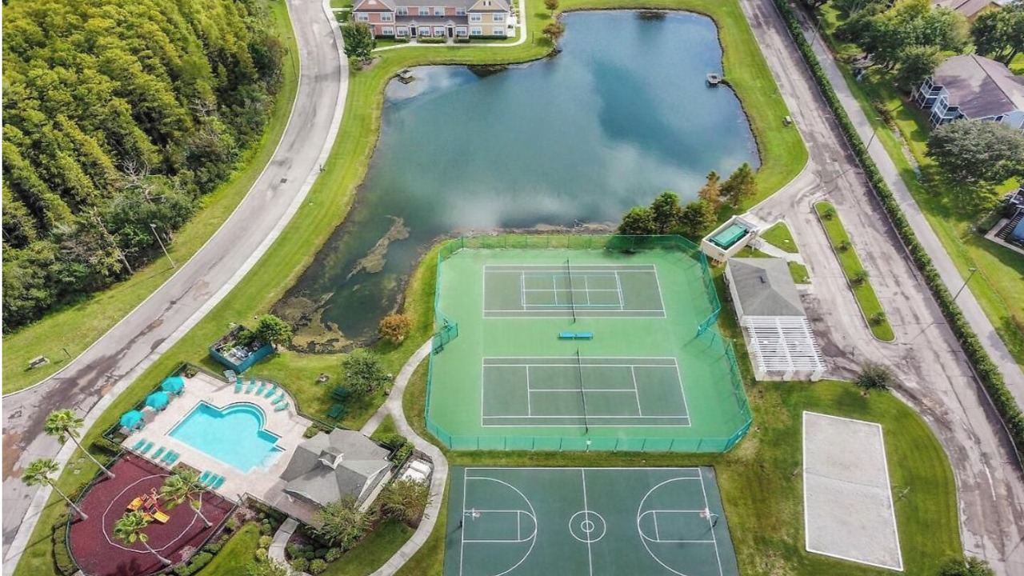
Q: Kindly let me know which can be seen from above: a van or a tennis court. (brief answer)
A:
tennis court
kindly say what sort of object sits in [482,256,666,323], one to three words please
tennis court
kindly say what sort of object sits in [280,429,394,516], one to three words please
building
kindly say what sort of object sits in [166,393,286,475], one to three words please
swimming pool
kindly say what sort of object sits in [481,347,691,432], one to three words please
tennis court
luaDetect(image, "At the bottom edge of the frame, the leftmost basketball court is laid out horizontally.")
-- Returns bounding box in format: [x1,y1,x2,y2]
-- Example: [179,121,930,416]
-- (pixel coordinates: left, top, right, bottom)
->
[443,467,738,576]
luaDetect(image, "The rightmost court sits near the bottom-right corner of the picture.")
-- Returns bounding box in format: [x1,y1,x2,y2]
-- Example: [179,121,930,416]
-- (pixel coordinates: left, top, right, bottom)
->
[786,410,911,571]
